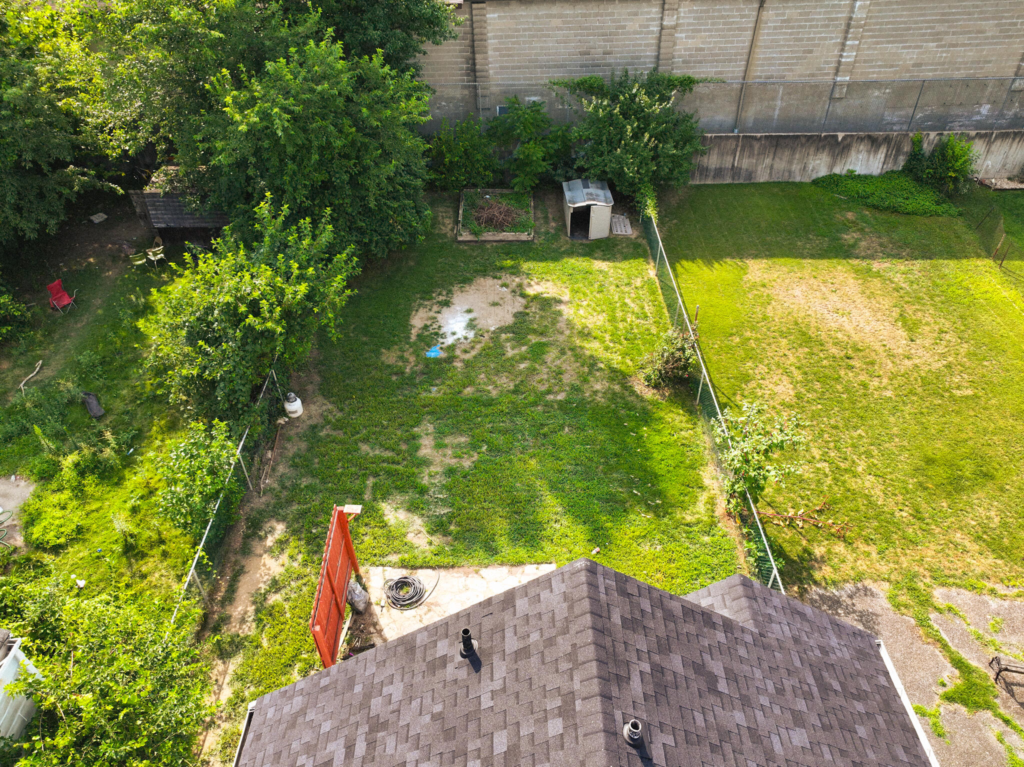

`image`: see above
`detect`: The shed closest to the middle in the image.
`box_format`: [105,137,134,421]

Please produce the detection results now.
[564,180,617,240]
